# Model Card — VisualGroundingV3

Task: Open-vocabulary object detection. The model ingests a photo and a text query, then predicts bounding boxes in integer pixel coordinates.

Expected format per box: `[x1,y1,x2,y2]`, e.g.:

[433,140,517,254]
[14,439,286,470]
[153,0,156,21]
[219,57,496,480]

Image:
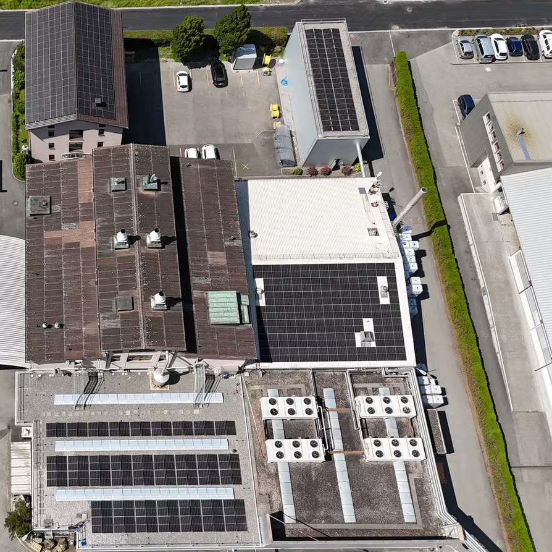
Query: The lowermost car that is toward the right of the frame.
[454,94,475,120]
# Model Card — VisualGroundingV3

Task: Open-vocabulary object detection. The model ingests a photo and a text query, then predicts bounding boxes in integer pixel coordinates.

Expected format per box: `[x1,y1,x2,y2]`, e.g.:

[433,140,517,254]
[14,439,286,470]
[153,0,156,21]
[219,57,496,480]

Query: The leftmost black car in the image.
[210,61,227,89]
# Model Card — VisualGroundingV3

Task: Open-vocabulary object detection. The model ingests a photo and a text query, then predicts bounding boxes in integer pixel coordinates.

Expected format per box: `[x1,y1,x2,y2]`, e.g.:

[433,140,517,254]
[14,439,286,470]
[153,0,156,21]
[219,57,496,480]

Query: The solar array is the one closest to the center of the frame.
[252,262,407,361]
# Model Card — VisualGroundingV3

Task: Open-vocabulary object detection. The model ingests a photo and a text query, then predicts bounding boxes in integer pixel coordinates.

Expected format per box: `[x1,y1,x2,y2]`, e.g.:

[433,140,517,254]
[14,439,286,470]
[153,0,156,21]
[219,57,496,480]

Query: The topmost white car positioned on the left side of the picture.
[176,70,190,94]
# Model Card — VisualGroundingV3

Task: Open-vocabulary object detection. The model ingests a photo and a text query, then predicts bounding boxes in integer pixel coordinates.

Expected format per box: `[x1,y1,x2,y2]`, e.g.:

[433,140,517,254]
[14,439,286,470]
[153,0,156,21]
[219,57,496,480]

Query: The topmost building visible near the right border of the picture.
[459,92,552,200]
